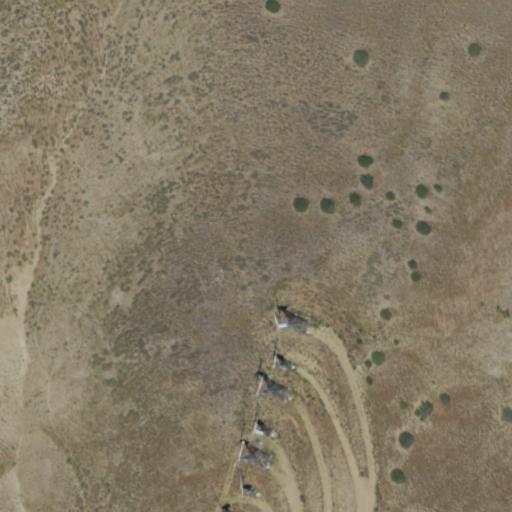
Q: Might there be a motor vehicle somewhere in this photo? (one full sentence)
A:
No, the picture doesn't show any motor vehicle.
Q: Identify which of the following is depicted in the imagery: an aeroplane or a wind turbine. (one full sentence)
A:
It is a wind turbine that can be seen here.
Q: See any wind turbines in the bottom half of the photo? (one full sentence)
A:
Yes, the scene does show a wind turbine in the bottom half of the photo.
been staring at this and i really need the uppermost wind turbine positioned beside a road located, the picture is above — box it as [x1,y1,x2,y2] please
[274,314,310,342]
